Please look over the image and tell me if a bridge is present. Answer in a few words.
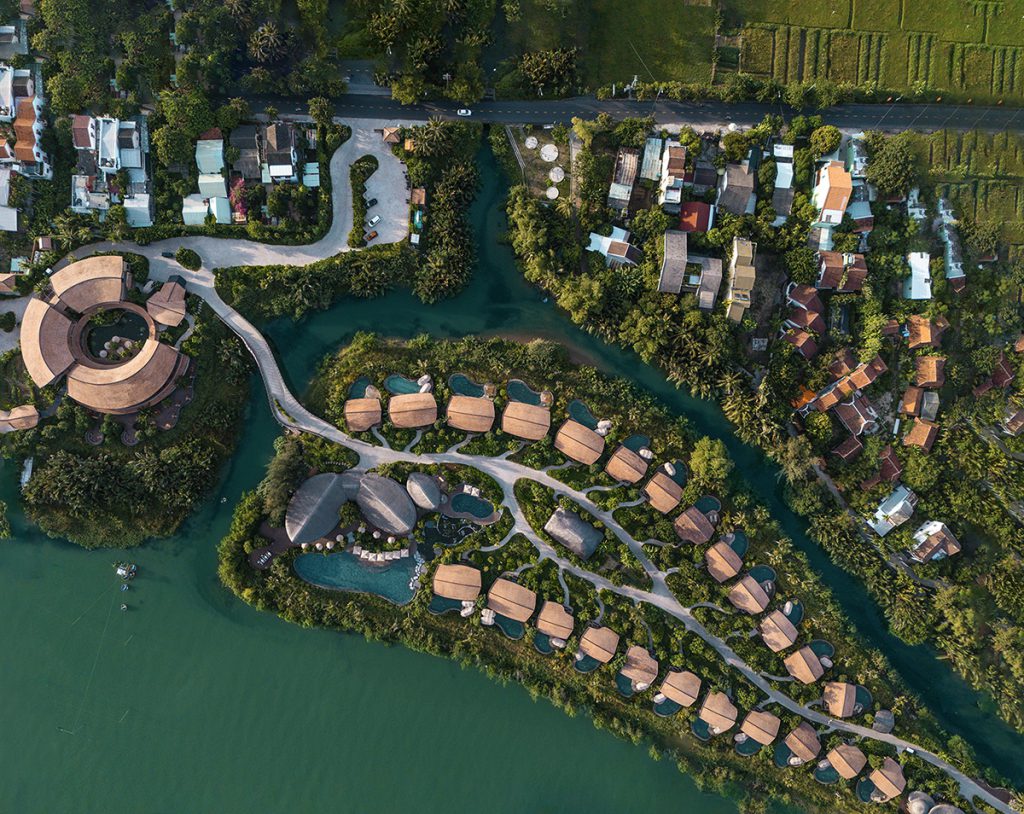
Yes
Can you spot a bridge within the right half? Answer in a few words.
No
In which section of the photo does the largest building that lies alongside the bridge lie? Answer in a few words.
left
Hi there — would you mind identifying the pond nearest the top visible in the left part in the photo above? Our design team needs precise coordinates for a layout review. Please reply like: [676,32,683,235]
[86,308,146,364]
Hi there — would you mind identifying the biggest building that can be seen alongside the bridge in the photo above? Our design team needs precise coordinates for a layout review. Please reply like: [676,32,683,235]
[20,256,190,412]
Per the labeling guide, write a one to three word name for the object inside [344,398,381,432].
house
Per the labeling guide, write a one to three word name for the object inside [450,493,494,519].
swimming pool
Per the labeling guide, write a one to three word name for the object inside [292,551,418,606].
swimming pool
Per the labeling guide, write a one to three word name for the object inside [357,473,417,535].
building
